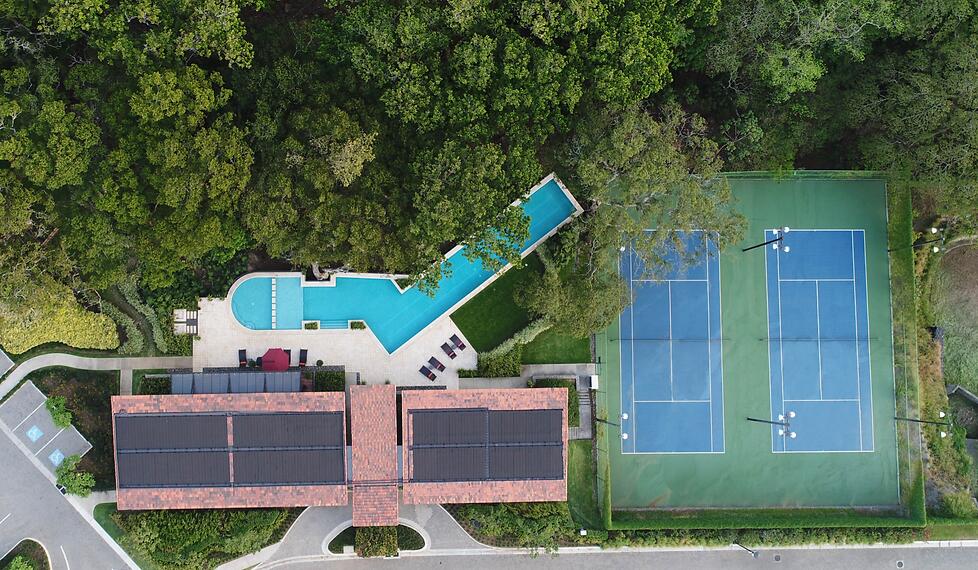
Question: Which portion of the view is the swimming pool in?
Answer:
center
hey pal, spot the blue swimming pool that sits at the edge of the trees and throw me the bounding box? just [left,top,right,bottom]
[226,173,583,360]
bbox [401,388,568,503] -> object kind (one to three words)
building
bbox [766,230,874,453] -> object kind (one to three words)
tennis court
